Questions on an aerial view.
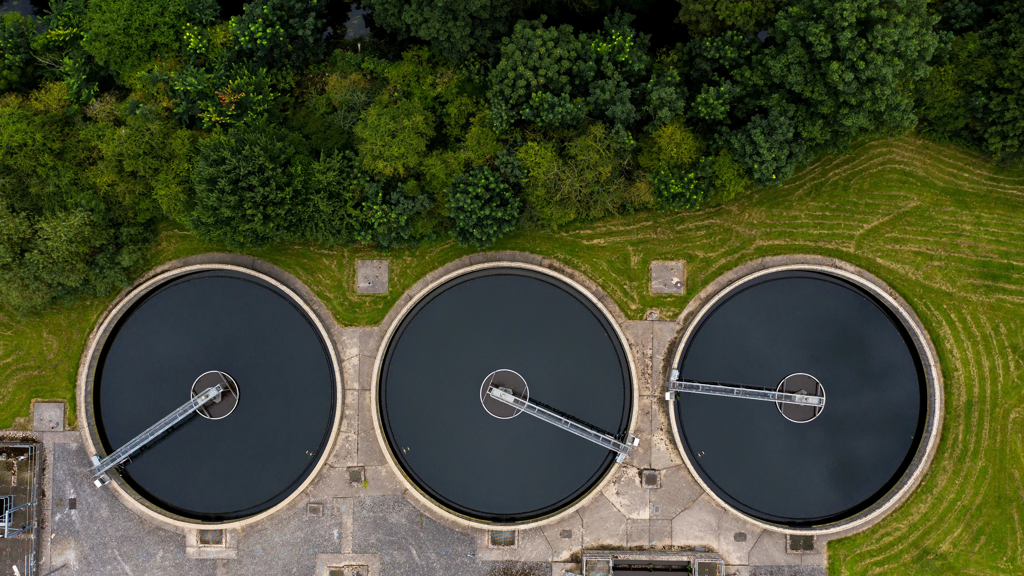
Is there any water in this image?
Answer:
Yes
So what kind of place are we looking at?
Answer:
industrial area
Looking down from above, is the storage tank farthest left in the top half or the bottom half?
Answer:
bottom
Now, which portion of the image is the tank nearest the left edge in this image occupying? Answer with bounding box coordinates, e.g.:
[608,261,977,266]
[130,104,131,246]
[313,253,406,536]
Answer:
[80,264,344,530]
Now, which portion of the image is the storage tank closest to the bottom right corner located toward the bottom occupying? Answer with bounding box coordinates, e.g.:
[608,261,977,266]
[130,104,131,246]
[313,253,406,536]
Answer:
[667,264,940,535]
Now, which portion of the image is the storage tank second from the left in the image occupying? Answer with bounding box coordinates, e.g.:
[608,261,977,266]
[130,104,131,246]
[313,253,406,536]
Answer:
[371,263,638,532]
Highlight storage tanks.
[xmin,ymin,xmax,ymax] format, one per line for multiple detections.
[371,263,638,532]
[667,264,940,535]
[80,264,344,530]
